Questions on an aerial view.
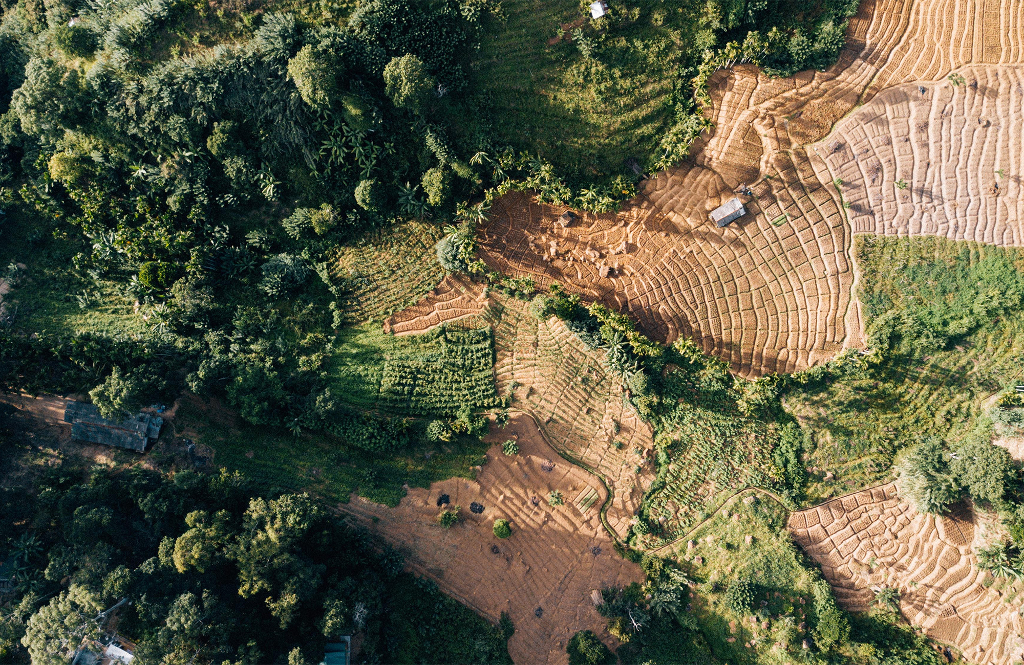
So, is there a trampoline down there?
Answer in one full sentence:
No, I can't see a single trampoline in this photo.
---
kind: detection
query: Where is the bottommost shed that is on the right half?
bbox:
[707,197,747,230]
